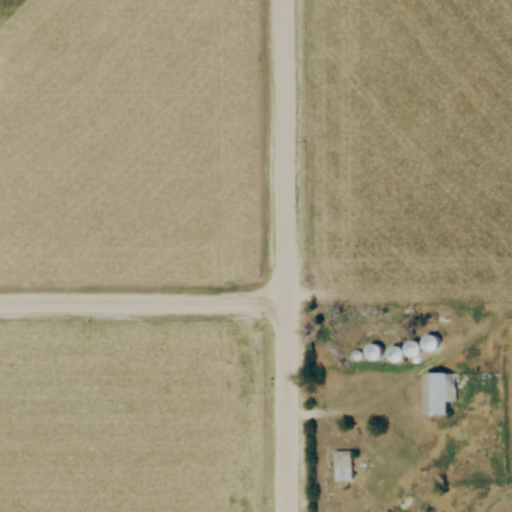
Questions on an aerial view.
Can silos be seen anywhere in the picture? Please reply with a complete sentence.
Yes, a silo is visible in the scene.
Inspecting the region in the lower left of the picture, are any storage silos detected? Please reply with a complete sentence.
No, there is no storage silo in the lower left of the picture.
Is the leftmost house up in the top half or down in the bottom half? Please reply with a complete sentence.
It is in the bottom half that the leftmost house appears.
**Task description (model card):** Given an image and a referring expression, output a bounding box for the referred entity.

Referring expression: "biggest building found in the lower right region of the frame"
[428,372,458,416]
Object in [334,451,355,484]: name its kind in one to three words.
house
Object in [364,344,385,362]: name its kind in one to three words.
silo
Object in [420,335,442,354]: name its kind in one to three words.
silo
